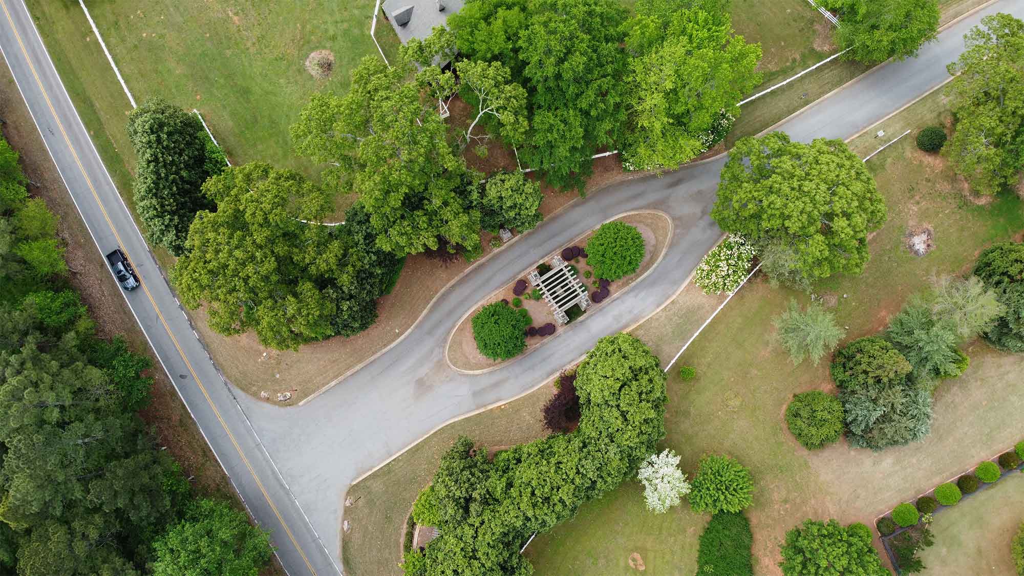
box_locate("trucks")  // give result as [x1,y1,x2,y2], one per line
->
[108,249,140,289]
